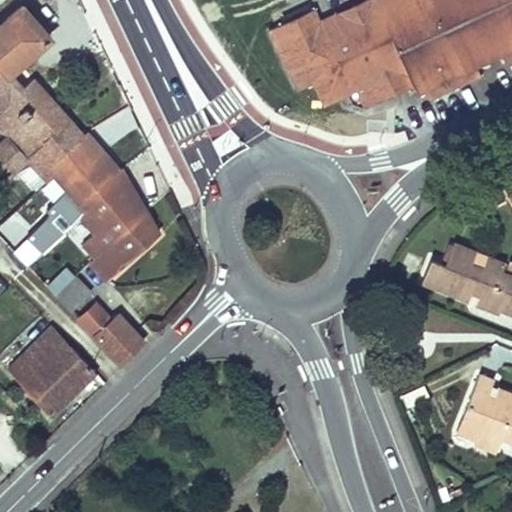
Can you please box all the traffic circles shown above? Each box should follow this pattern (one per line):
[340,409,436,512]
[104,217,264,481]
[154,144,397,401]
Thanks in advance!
[201,132,424,384]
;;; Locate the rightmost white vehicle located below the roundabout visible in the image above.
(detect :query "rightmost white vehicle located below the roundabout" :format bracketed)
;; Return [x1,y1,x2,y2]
[384,448,399,470]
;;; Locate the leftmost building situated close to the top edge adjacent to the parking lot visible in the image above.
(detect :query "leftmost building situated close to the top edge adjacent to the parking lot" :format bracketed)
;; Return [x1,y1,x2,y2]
[268,0,416,108]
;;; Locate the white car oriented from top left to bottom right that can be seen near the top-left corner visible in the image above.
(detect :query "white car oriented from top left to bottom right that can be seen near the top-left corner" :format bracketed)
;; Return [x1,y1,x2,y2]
[38,3,58,24]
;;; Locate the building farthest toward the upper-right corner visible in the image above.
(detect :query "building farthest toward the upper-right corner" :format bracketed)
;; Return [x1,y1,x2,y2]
[376,0,512,98]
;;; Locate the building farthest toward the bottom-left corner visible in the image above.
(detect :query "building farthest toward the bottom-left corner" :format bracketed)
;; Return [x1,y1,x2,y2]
[9,323,104,416]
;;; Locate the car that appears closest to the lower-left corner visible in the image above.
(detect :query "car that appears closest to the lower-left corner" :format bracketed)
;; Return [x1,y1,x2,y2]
[34,460,54,478]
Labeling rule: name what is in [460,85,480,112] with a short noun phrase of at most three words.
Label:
vehicle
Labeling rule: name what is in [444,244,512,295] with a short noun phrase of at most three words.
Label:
house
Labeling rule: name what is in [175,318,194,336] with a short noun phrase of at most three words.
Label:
car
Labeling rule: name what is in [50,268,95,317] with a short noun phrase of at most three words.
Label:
building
